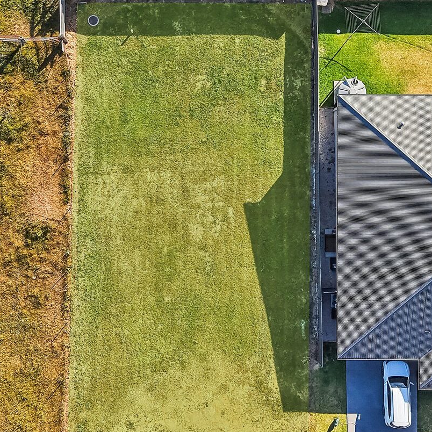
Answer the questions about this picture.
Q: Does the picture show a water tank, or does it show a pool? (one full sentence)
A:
There is a water tank in the scene.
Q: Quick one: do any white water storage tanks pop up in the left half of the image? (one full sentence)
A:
No, there's no white water storage tank to be seen in the left half of the image.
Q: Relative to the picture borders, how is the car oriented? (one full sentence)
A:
What the image shows is the car lying vertically.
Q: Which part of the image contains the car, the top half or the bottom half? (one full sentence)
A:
You can find the car in the bottom half.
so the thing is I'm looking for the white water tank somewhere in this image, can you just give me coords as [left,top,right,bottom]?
[323,76,366,108]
